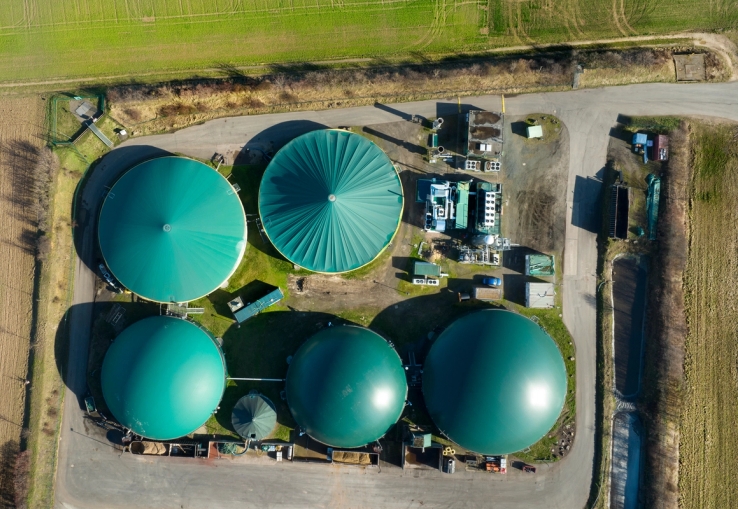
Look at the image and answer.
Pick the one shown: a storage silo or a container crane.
storage silo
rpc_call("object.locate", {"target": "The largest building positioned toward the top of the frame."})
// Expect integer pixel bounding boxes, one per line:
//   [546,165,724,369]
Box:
[466,111,504,162]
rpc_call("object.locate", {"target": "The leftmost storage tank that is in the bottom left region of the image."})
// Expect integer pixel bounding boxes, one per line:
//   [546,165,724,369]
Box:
[102,314,231,440]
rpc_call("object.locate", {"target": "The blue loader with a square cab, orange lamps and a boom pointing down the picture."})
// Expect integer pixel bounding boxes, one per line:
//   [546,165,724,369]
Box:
[631,132,648,162]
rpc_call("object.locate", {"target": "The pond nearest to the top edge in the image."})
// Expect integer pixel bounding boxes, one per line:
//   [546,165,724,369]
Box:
[614,254,650,402]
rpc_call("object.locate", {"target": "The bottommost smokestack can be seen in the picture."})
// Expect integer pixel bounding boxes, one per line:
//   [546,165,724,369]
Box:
[430,146,453,168]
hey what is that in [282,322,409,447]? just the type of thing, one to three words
storage tank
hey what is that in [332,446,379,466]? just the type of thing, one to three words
trailer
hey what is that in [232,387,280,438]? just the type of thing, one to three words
silo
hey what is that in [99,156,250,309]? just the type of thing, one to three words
storage tank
